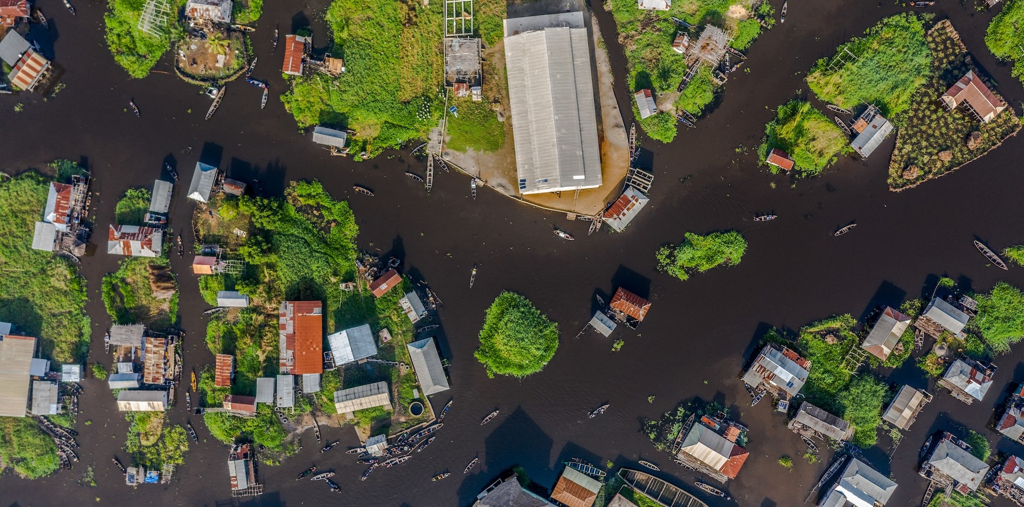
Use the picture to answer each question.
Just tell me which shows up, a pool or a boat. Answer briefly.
boat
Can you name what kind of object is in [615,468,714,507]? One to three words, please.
ship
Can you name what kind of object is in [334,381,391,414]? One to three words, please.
house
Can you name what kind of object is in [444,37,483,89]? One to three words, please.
shed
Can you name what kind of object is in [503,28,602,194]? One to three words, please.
building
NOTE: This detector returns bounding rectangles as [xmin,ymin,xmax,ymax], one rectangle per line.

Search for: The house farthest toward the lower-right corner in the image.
[989,453,1024,505]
